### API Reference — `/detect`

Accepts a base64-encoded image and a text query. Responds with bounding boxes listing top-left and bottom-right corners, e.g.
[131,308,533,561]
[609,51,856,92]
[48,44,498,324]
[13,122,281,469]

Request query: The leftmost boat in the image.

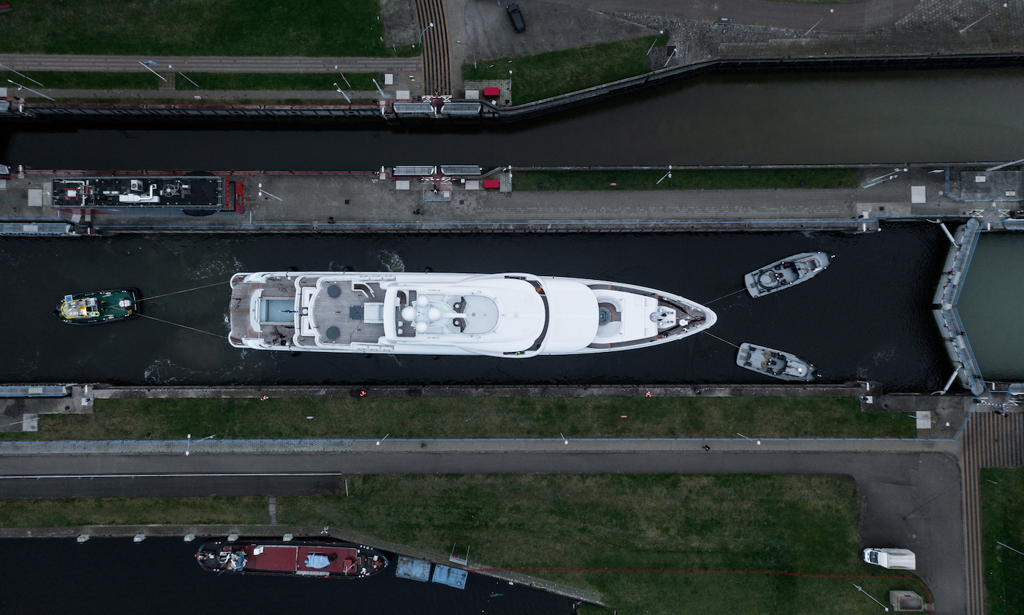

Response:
[53,287,147,324]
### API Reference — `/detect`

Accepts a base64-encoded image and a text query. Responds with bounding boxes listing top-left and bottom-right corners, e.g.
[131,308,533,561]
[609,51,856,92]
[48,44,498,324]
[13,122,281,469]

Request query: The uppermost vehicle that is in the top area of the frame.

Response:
[507,3,524,33]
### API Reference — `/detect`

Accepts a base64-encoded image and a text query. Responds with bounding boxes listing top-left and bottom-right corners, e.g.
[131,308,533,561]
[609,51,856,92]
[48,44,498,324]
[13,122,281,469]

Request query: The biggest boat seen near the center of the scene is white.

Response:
[229,271,718,358]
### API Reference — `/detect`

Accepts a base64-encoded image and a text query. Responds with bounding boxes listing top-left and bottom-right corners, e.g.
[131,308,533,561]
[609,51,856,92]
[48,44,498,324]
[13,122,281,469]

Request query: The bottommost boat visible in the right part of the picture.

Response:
[736,342,820,382]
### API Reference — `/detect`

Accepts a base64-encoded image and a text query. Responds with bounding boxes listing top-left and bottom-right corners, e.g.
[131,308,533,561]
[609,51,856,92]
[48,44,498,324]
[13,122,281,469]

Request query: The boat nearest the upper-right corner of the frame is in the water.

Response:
[744,253,835,298]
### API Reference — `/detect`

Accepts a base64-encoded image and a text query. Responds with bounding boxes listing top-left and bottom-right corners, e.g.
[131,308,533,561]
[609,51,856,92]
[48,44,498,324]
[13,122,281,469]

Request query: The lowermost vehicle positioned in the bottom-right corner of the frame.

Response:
[863,548,915,570]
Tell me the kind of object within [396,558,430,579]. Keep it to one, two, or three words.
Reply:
pier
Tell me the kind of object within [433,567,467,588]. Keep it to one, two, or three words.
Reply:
pier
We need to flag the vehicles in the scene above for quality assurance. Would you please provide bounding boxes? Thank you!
[863,548,915,570]
[507,3,524,33]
